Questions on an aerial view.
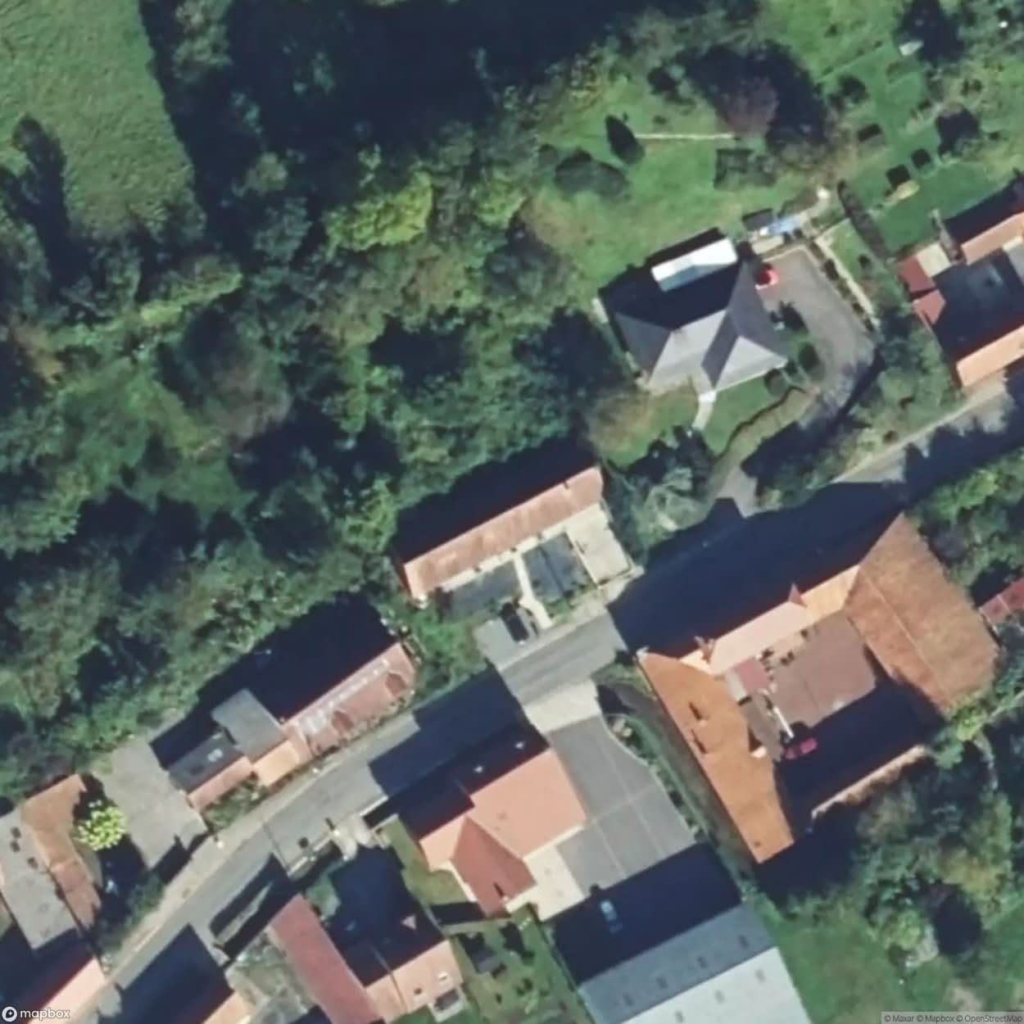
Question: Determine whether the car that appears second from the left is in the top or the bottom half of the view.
bottom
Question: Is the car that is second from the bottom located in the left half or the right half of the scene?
right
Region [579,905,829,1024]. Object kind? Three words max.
shed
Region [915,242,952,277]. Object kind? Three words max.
building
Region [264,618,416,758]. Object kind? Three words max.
house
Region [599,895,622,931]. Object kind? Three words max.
car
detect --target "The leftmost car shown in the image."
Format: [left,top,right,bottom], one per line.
[506,606,531,640]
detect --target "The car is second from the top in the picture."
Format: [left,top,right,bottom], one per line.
[783,737,819,761]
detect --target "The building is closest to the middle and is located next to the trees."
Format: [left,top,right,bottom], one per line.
[389,439,603,600]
